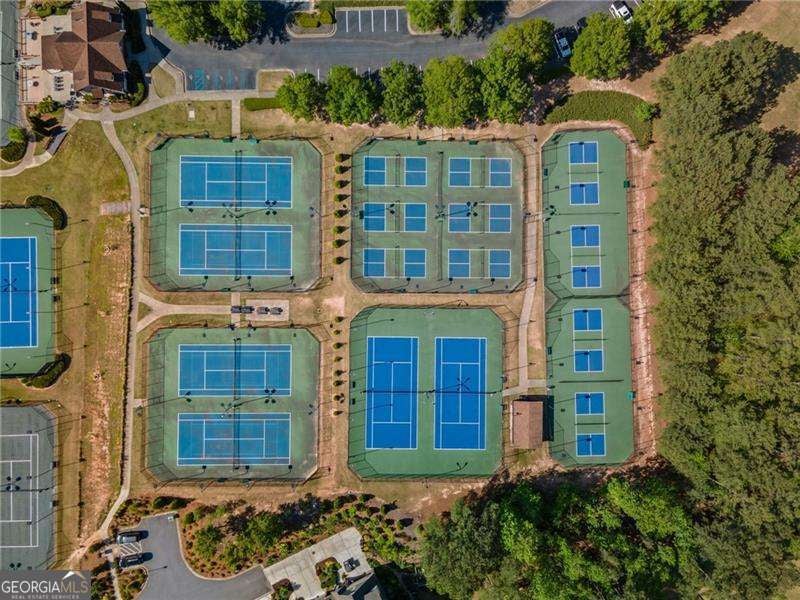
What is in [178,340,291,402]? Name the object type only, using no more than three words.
tennis court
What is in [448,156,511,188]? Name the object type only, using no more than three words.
sports court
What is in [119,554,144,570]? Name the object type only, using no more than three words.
car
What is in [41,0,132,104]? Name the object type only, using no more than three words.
building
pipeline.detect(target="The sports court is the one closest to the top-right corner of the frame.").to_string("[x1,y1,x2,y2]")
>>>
[569,142,602,205]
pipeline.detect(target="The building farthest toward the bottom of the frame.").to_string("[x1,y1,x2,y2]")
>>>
[321,563,391,600]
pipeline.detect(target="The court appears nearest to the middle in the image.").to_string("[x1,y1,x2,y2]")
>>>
[363,247,427,279]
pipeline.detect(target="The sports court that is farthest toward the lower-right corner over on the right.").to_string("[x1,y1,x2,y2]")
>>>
[574,392,608,456]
